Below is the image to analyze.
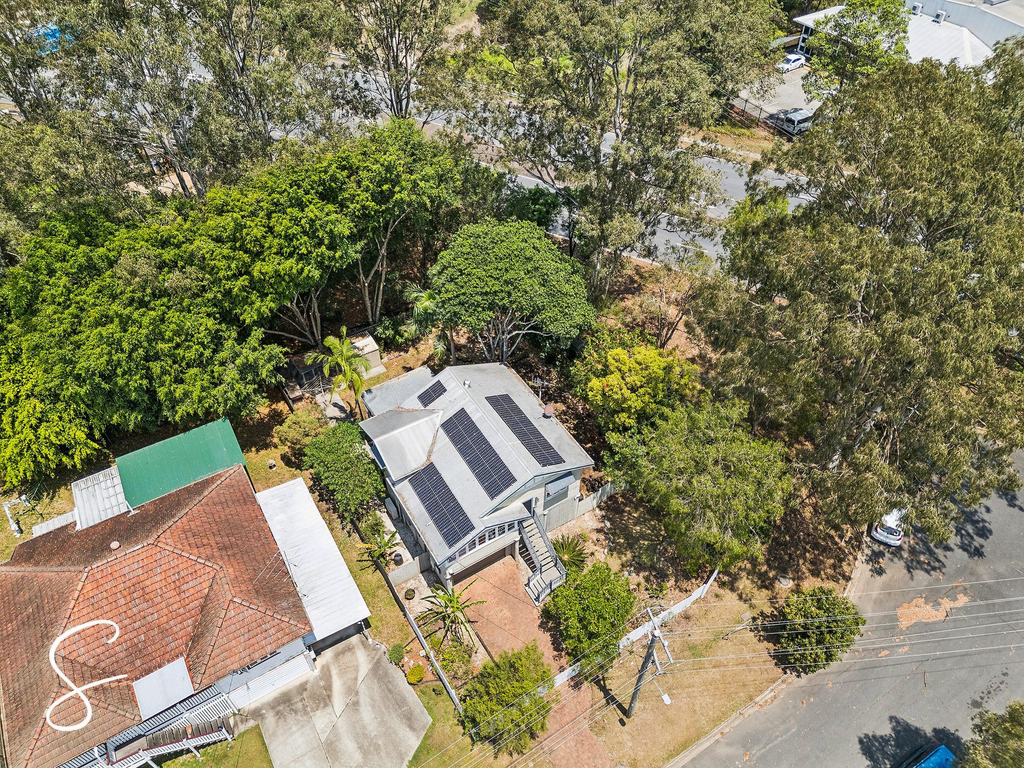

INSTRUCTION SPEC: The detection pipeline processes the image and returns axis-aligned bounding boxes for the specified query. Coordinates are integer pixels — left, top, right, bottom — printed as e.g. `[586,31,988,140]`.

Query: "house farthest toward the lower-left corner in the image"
[0,416,372,768]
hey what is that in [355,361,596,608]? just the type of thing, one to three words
house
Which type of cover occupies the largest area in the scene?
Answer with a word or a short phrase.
trees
